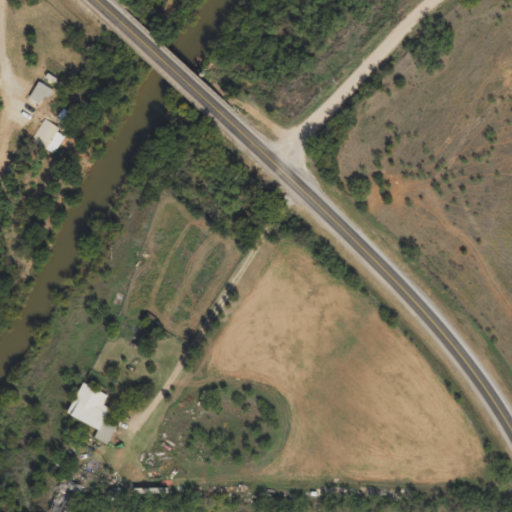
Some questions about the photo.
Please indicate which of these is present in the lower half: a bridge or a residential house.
residential house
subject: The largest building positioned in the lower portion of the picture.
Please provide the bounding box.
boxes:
[67,382,109,430]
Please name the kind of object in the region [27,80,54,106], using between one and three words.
house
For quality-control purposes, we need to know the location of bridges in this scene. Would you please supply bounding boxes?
[110,10,235,127]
